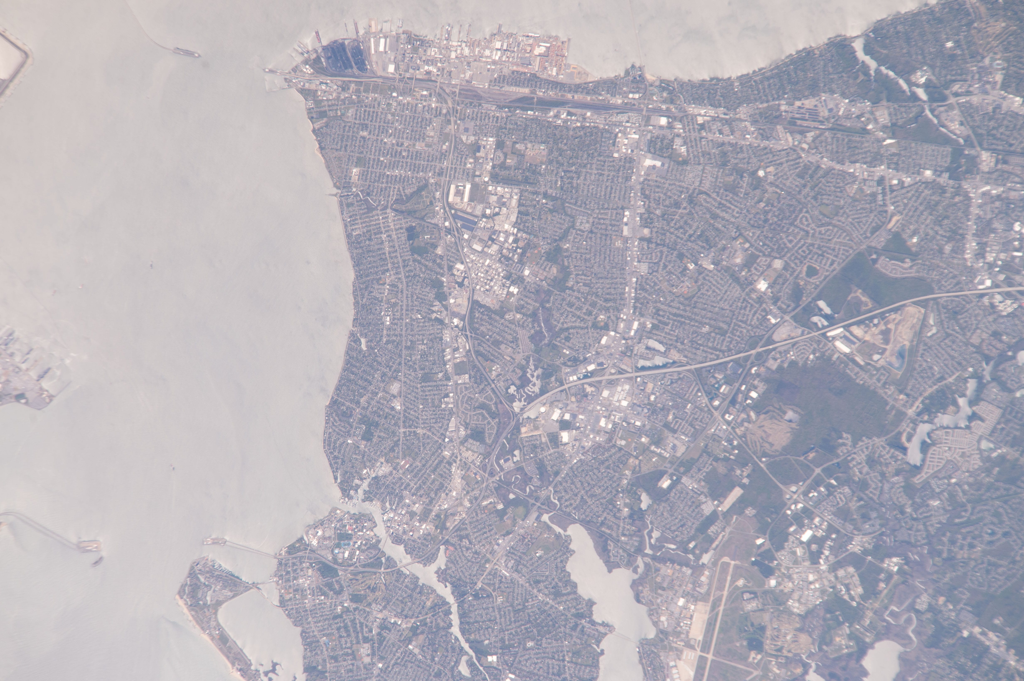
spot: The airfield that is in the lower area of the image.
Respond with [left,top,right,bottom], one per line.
[672,524,788,681]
